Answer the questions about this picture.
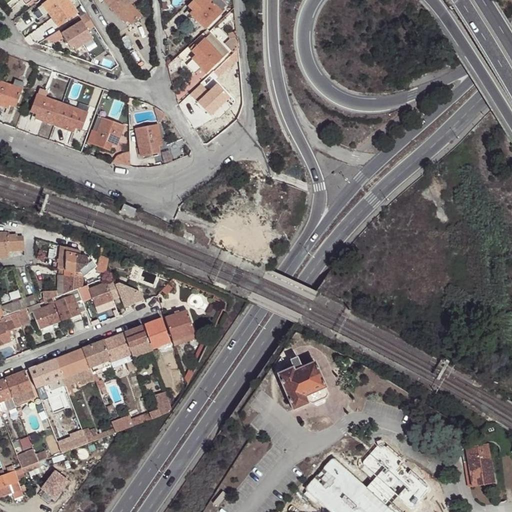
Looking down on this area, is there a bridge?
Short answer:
Yes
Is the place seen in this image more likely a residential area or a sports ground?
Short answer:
residential area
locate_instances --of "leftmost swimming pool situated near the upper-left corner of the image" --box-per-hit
[68,81,83,100]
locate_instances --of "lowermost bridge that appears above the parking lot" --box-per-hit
[238,258,327,330]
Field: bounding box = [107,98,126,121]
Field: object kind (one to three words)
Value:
swimming pool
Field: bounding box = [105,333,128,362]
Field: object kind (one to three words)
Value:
house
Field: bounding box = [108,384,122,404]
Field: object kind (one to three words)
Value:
swimming pool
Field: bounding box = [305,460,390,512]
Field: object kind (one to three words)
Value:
building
